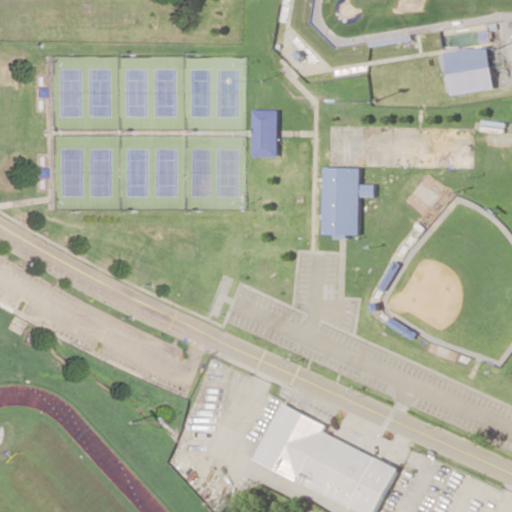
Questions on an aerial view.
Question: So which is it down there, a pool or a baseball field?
baseball field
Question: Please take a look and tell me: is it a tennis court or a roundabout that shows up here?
tennis court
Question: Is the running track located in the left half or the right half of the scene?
left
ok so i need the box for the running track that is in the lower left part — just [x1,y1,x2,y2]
[0,384,167,512]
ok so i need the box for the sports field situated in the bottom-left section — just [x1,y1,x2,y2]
[0,405,138,512]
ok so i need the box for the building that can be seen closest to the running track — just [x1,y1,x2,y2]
[256,404,398,512]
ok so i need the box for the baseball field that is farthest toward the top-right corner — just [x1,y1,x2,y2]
[311,0,512,48]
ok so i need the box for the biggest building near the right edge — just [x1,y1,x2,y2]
[442,48,494,96]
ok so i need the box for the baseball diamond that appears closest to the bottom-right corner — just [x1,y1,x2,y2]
[384,197,512,364]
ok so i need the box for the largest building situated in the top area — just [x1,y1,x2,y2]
[318,167,374,240]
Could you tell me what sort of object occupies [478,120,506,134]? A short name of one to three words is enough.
shed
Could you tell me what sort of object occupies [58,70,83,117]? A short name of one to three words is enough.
tennis court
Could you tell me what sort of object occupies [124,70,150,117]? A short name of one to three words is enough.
tennis court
